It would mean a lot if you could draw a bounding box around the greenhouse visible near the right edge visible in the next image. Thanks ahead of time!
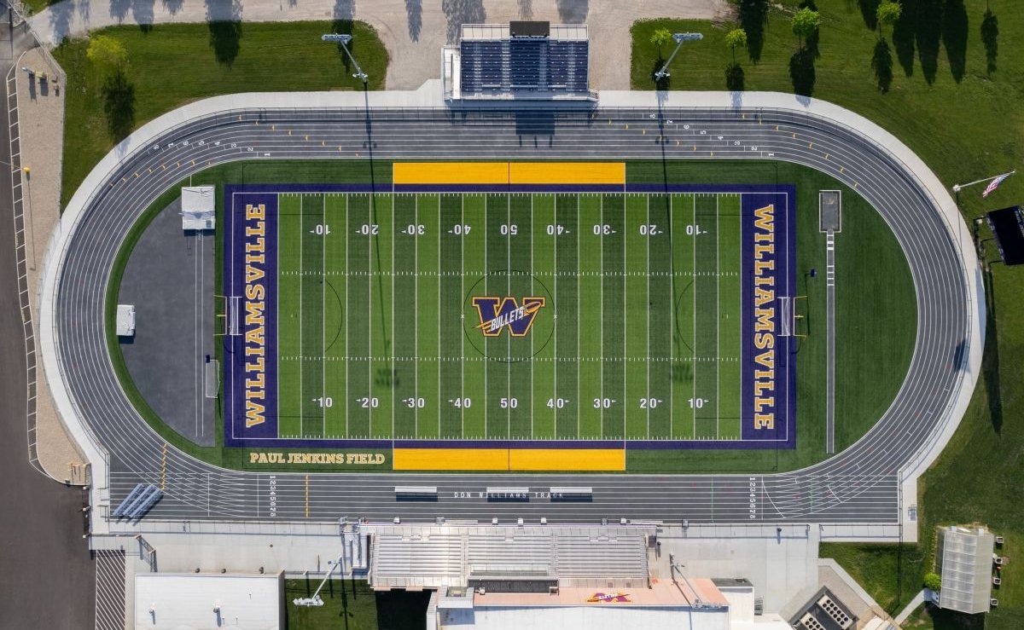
[929,526,995,614]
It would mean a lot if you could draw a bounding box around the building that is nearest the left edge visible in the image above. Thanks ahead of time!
[134,567,288,630]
